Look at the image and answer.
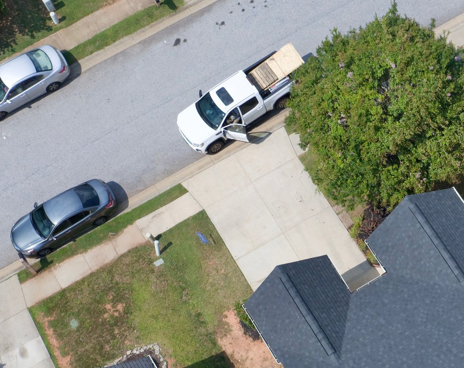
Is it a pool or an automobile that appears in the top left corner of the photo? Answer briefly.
automobile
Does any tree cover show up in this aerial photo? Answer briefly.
Yes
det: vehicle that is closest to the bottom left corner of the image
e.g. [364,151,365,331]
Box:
[6,168,121,259]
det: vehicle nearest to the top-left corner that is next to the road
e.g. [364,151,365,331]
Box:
[0,38,73,121]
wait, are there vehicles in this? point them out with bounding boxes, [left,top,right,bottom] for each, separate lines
[0,38,73,121]
[174,46,305,154]
[6,168,121,259]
